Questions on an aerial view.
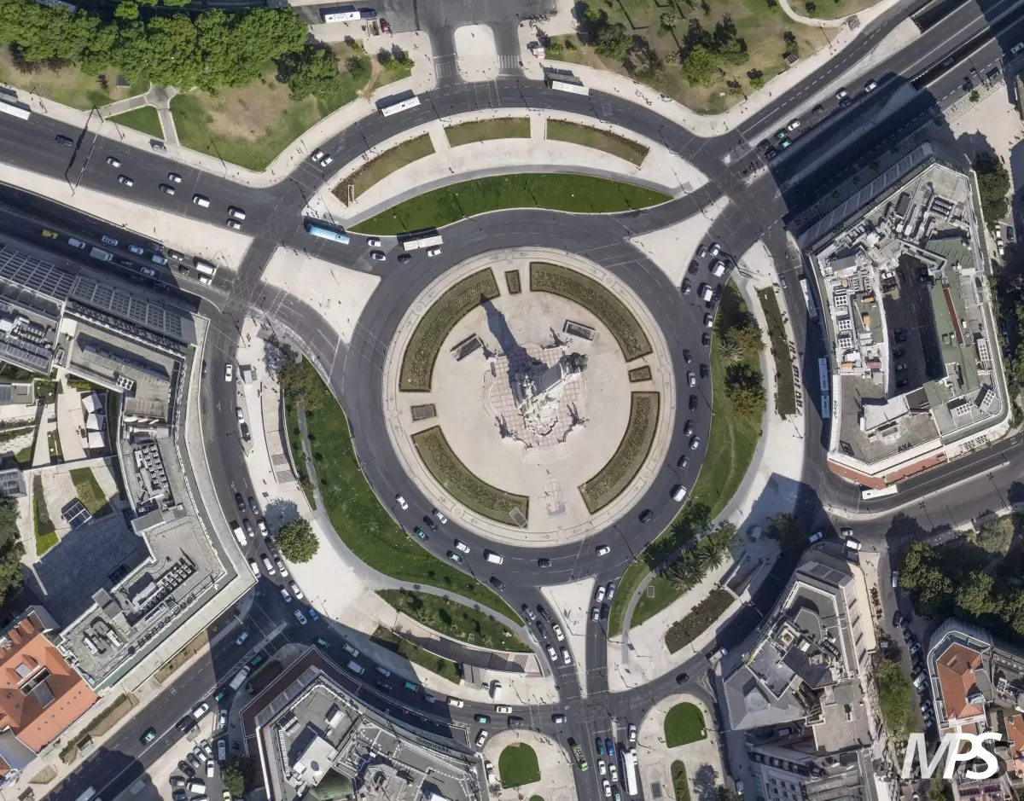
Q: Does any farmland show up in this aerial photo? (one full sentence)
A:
No, the picture contains no farmland.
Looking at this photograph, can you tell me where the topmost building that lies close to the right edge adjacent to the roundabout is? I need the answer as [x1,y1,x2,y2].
[799,140,1016,488]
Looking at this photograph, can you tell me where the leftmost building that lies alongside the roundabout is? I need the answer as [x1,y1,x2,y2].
[54,281,256,693]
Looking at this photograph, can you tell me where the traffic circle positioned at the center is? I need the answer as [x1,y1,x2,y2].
[338,210,711,588]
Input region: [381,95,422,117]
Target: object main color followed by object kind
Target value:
white bus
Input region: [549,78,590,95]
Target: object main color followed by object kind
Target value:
white vehicle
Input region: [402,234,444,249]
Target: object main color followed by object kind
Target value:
white vehicle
